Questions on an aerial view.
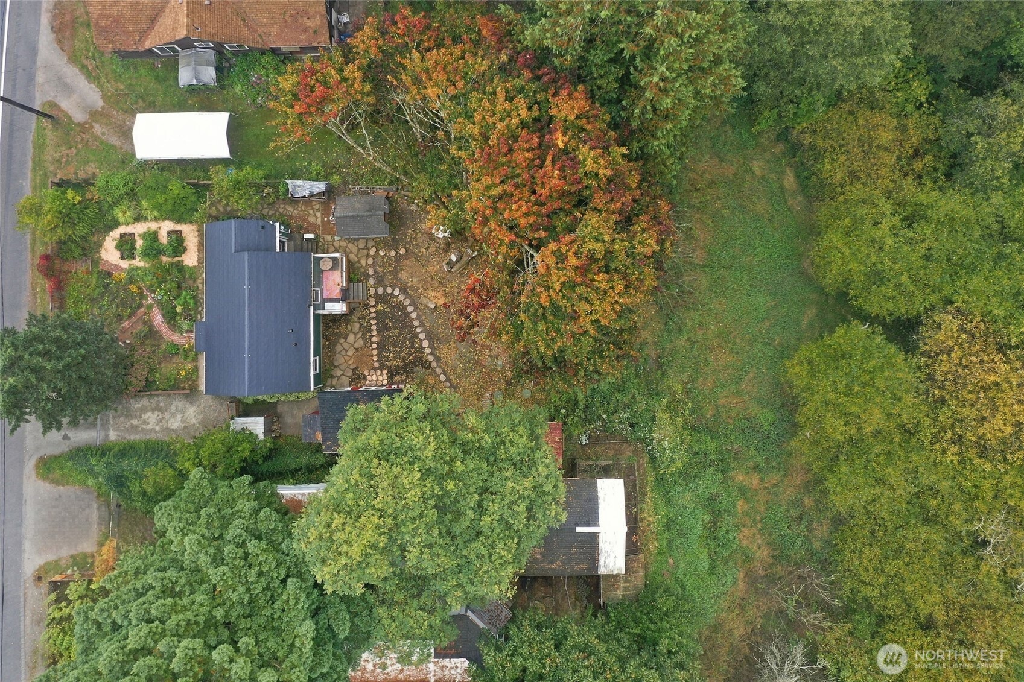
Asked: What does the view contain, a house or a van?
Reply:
house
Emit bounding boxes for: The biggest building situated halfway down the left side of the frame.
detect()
[194,218,333,397]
